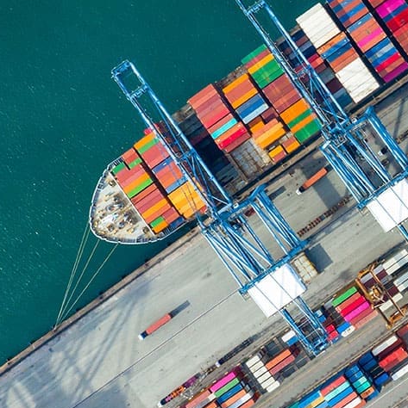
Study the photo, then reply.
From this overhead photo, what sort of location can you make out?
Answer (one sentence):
The picture captures a port.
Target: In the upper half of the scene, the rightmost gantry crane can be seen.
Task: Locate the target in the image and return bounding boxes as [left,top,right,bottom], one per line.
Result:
[235,0,408,241]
